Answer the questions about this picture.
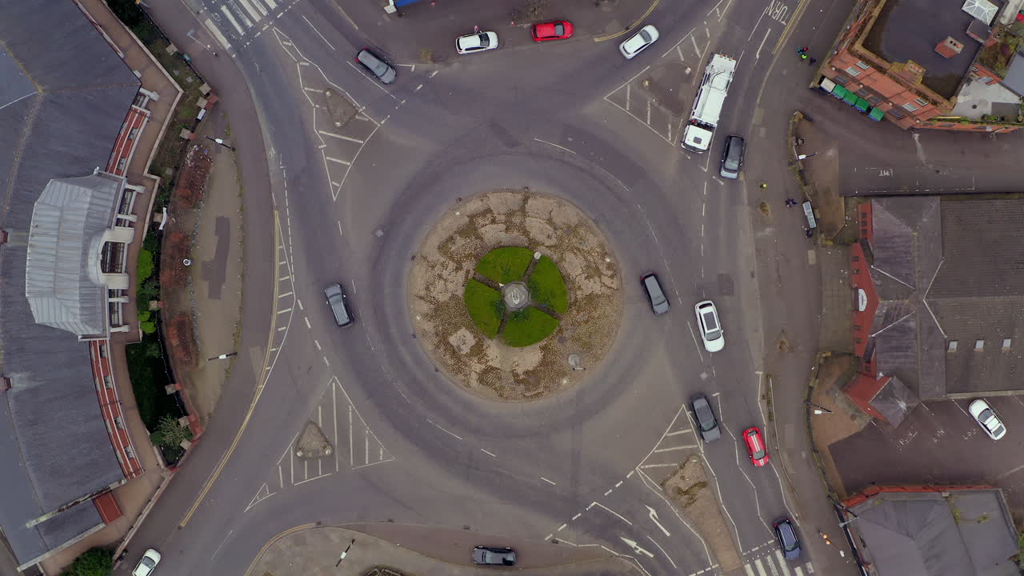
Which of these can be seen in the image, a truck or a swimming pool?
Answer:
truck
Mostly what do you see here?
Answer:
paved ground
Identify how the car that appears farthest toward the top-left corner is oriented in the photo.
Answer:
at an angle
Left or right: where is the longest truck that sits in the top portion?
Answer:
right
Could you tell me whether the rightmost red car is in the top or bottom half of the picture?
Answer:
bottom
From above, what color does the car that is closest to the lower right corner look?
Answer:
white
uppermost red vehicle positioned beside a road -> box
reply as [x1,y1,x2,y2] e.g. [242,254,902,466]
[531,20,573,43]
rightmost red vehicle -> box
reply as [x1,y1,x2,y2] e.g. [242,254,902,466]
[741,426,768,466]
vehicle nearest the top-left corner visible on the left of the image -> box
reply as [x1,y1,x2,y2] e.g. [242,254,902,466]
[355,48,397,86]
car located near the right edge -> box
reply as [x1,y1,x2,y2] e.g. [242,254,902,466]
[967,398,1008,442]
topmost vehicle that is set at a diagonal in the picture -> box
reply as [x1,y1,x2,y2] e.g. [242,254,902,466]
[619,25,660,61]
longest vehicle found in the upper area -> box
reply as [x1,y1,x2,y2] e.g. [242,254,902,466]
[680,51,737,158]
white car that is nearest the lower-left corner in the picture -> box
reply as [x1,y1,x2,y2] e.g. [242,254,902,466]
[129,548,163,576]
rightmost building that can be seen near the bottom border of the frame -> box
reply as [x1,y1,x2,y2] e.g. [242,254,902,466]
[837,481,1024,576]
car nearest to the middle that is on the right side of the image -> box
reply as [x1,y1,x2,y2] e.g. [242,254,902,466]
[640,272,668,315]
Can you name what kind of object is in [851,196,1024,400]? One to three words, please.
building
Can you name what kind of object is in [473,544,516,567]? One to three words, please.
car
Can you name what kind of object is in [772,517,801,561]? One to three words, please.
car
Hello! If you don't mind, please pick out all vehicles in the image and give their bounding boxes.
[355,48,397,86]
[473,544,516,567]
[640,272,668,315]
[967,398,1008,442]
[772,517,801,561]
[741,426,768,466]
[455,30,500,56]
[531,20,573,43]
[694,300,724,351]
[129,548,163,576]
[690,394,720,442]
[719,134,743,180]
[619,25,660,61]
[680,51,737,158]
[325,283,352,328]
